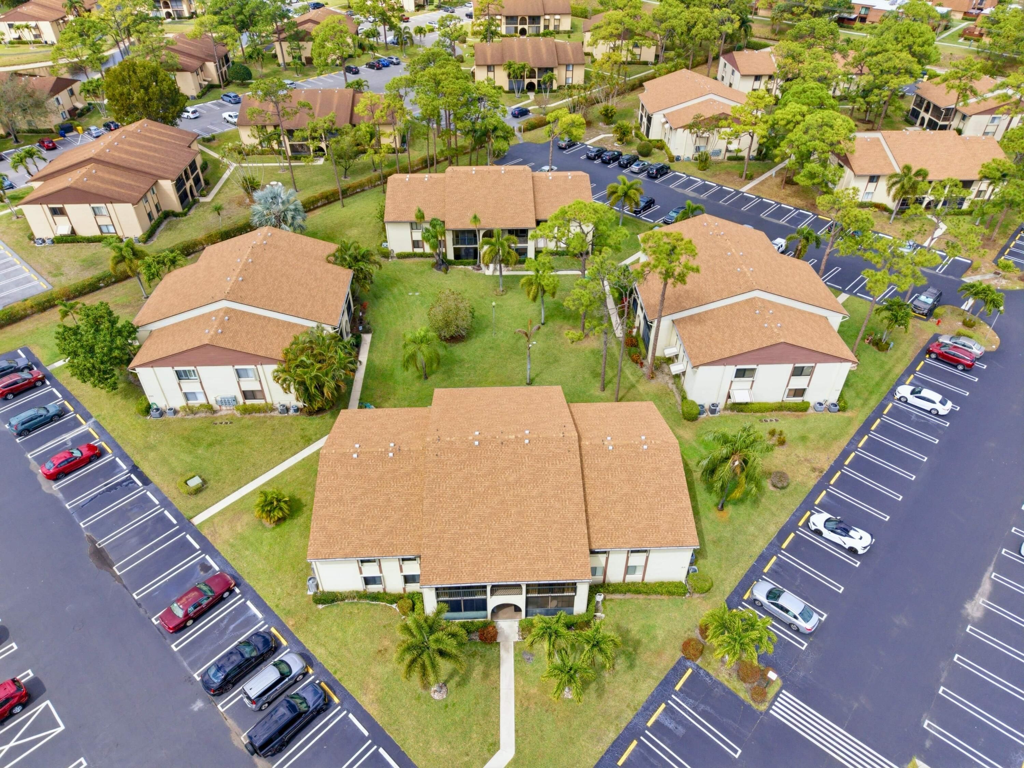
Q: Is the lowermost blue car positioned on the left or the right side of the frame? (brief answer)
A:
left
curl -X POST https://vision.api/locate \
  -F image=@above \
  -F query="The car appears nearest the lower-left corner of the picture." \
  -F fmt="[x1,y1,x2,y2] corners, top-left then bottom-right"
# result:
[0,670,39,716]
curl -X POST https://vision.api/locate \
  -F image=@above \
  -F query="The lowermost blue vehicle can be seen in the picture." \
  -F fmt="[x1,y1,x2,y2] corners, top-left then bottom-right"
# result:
[244,684,325,761]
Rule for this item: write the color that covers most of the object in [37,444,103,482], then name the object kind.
red car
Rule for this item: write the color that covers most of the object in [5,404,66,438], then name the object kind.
blue car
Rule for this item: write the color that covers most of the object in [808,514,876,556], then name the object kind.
white car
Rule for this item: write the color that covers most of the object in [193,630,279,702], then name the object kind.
blue car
